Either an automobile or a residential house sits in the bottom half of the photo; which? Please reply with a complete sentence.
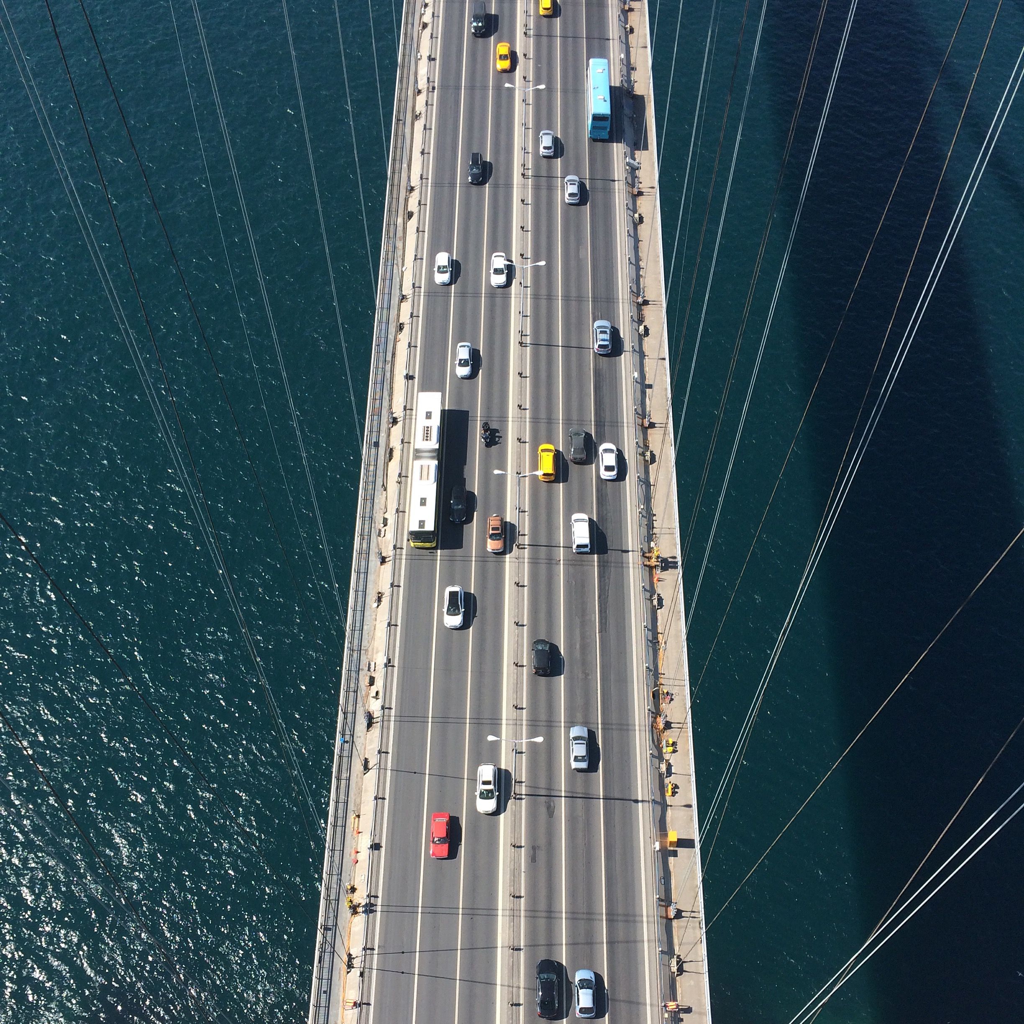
Looking in the bottom half of the photo, you will find an automobile.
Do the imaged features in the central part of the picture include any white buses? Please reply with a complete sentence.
Yes, a white bus can be seen in the central part of the picture.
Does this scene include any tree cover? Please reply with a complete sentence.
No, the scene doesn't show any tree cover.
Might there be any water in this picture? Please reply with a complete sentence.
Yes, there is water in the image.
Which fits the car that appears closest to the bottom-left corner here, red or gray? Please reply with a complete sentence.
From above, the car that appears closest to the bottom-left corner appears red.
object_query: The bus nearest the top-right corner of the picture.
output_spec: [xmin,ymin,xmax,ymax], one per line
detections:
[587,58,611,140]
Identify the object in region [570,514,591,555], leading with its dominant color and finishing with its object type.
white vehicle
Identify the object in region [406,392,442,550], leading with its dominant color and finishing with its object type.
white bus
